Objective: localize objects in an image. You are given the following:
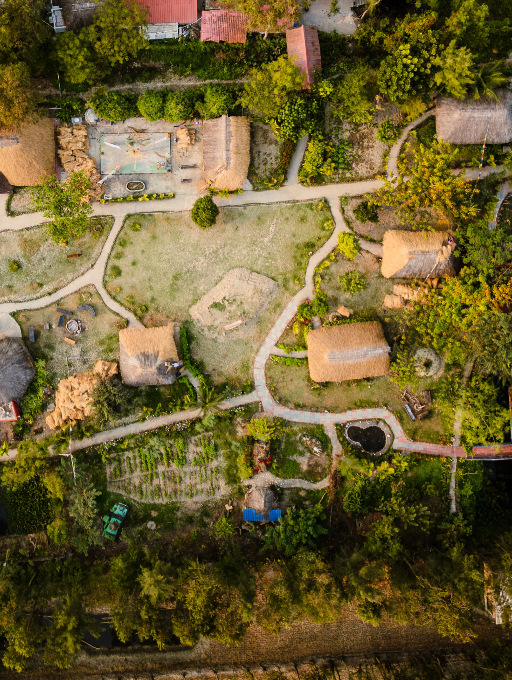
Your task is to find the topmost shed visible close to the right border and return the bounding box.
[434,89,512,145]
